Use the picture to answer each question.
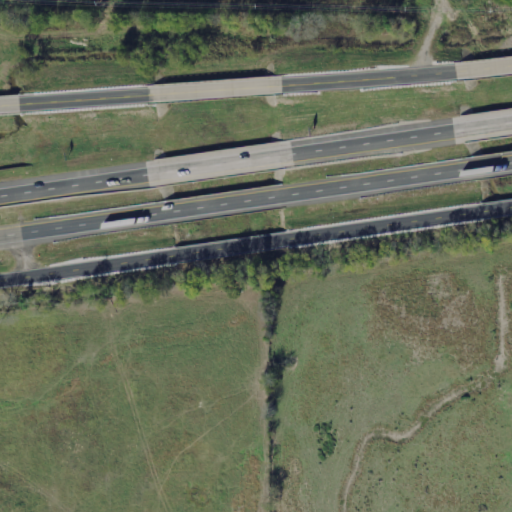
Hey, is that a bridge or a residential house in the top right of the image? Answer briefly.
bridge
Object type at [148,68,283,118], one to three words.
bridge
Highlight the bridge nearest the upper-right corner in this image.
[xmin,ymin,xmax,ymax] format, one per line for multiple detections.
[454,52,512,90]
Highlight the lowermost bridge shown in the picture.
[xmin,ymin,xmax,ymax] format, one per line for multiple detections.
[172,230,288,265]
